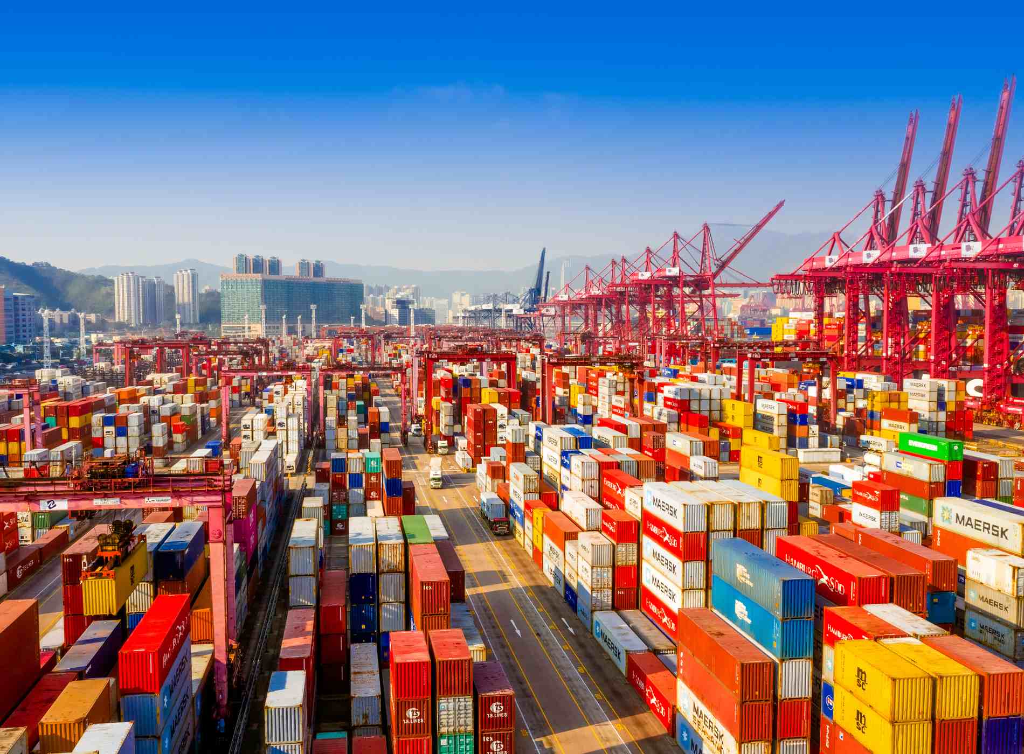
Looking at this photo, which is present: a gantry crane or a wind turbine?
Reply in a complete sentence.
The image shows a gantry crane.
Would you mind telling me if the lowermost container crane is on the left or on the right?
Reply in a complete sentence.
The lowermost container crane sits on the left side.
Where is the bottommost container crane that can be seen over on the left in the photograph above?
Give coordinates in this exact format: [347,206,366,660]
[0,448,248,752]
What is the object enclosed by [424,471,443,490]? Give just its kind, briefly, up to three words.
vehicle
